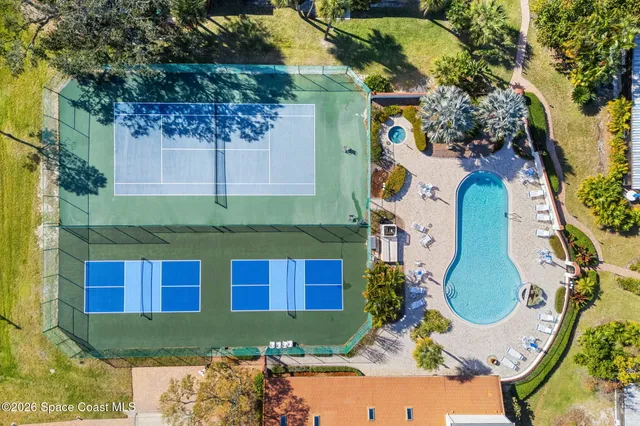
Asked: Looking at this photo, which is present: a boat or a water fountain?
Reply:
water fountain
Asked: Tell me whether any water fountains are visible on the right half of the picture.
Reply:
Yes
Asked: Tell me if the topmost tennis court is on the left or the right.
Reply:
left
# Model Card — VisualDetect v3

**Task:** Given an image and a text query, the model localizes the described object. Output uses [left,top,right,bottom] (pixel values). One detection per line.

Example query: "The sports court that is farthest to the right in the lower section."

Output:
[231,259,343,312]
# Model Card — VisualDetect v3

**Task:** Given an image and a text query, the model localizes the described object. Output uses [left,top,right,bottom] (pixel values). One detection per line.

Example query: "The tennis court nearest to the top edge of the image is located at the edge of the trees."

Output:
[114,102,315,196]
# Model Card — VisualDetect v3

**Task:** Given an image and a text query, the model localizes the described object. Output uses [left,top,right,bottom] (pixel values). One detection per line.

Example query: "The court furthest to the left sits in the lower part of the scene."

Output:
[84,260,201,313]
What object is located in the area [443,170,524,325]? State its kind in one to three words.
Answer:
swimming pool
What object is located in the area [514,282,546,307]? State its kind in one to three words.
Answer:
fountain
